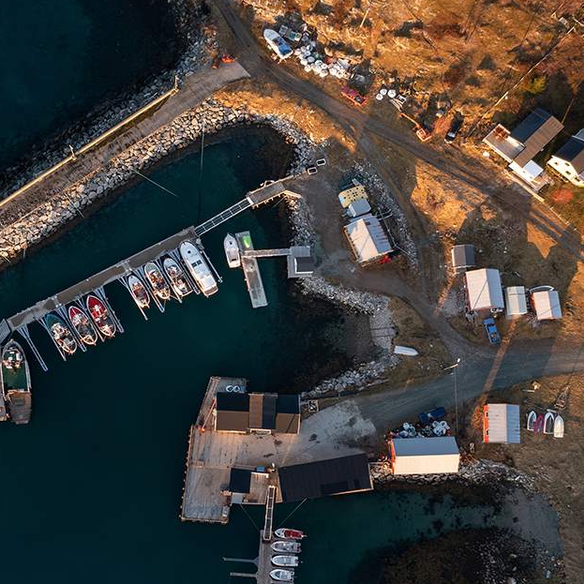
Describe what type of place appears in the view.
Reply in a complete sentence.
This image shows a port.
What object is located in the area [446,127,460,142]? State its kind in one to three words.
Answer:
car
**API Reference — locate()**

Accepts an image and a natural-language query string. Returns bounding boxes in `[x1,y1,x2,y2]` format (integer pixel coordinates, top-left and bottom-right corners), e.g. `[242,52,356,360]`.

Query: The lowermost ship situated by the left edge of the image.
[7,391,32,425]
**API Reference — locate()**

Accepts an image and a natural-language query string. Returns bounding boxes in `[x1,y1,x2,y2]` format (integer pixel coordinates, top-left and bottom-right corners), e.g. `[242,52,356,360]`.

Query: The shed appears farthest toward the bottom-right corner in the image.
[482,403,522,444]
